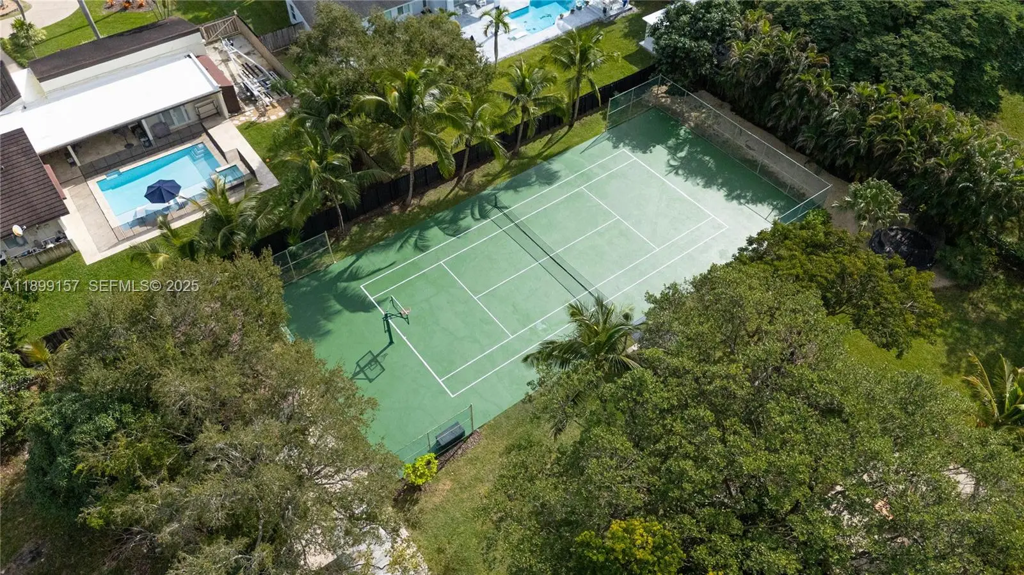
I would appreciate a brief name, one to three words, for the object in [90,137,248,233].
swimming pool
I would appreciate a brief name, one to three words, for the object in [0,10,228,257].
house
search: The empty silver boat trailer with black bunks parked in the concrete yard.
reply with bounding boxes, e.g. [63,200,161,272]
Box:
[218,36,293,100]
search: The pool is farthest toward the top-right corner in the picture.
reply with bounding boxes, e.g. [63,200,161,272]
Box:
[507,0,579,38]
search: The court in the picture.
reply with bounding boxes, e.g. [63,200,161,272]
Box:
[278,106,808,464]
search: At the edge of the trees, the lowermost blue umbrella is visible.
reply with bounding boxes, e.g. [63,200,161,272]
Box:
[145,177,185,209]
